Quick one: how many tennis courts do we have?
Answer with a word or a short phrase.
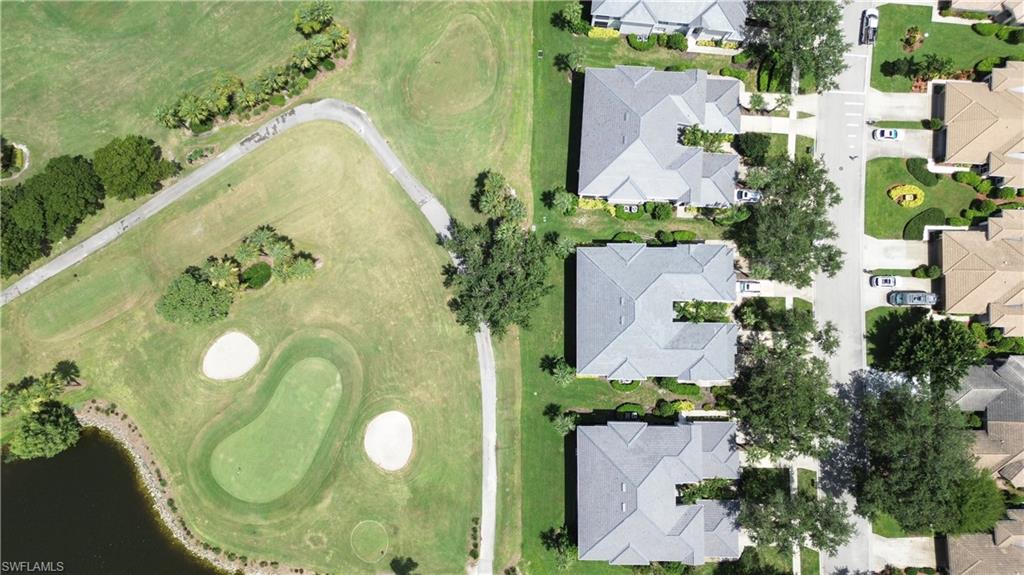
0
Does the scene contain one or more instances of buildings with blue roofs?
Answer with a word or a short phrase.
No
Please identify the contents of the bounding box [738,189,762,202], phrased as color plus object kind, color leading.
white vehicle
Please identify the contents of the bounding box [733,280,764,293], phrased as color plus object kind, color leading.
white vehicle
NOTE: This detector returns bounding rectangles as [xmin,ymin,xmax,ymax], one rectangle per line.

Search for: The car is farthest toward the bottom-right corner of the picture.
[889,291,934,306]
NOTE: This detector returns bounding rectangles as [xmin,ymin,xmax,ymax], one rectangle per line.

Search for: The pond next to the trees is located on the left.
[0,430,227,575]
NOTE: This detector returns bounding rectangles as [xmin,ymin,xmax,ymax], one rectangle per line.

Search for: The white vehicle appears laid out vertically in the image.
[860,8,879,45]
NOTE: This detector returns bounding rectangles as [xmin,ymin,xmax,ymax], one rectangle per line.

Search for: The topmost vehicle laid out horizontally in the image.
[875,126,904,139]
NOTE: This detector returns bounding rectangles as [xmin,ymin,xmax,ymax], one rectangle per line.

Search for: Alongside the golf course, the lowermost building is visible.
[576,419,739,567]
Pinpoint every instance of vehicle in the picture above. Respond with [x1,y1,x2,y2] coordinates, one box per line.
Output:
[733,280,764,293]
[875,126,904,139]
[889,291,934,306]
[868,275,897,288]
[860,8,879,45]
[738,189,762,202]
